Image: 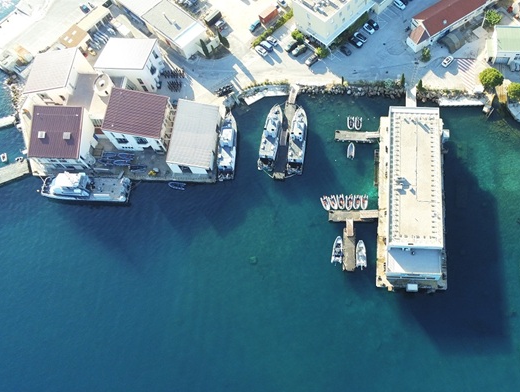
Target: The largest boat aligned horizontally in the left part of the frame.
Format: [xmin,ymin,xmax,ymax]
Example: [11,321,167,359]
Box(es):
[40,175,133,207]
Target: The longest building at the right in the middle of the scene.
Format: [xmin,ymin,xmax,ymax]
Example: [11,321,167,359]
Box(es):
[377,105,448,297]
